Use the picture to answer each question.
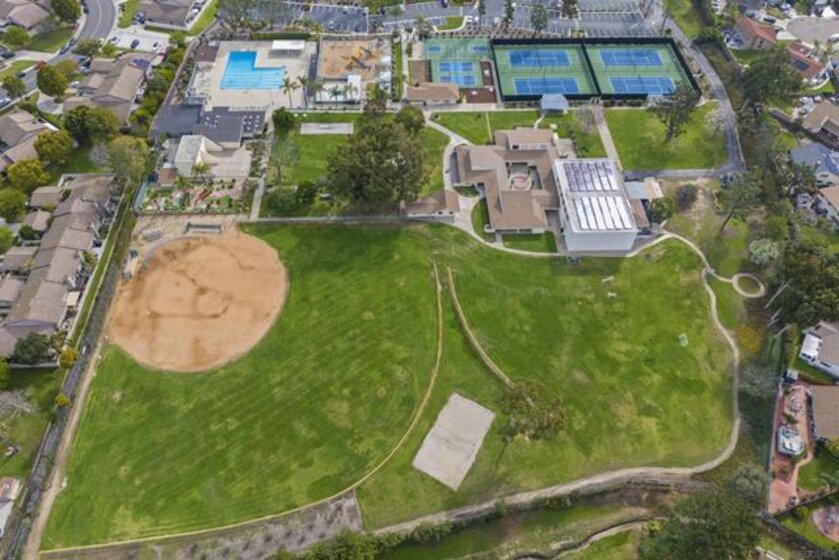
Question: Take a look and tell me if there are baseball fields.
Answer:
Yes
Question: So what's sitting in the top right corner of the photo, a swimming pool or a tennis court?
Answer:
tennis court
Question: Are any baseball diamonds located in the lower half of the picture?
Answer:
Yes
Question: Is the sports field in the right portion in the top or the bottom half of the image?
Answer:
bottom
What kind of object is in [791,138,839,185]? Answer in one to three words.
house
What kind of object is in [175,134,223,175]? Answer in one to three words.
building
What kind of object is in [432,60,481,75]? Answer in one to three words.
sports court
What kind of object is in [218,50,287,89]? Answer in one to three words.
swimming pool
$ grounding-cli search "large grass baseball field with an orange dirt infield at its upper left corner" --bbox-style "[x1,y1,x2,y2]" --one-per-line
[44,221,436,551]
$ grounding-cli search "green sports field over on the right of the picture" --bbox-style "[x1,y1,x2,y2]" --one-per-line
[359,221,734,534]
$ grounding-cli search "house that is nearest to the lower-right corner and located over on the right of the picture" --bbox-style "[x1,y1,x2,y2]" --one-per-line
[800,384,839,441]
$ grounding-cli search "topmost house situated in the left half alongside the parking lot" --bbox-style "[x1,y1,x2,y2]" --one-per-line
[134,0,202,33]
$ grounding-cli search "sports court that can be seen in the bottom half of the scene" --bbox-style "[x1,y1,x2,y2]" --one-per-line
[413,394,495,490]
